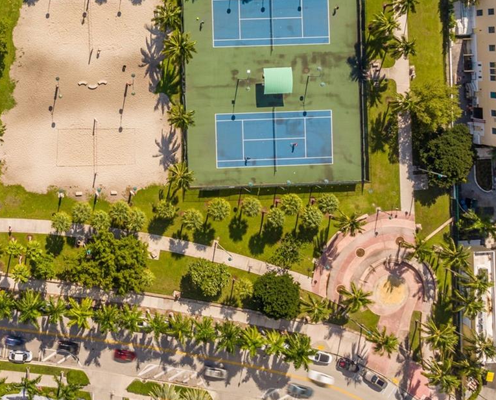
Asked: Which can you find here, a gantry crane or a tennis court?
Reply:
tennis court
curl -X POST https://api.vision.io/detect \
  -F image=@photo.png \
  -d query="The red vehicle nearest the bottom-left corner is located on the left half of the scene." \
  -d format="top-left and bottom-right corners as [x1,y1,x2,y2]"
[113,349,137,362]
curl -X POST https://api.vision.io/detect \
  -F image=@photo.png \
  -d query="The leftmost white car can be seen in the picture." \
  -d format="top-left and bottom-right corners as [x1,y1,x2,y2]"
[8,351,30,363]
